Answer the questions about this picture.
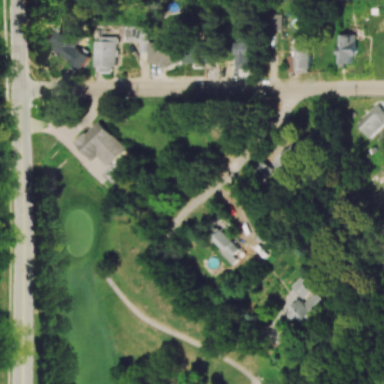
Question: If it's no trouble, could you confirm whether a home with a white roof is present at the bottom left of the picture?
No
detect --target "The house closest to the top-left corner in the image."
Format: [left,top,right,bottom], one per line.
[46,28,90,70]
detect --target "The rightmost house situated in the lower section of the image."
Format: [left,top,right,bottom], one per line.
[285,276,324,320]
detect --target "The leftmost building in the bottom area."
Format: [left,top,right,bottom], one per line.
[208,225,242,262]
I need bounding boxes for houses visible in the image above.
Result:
[147,41,172,65]
[93,36,118,74]
[285,276,324,320]
[356,104,384,138]
[71,122,124,168]
[255,160,278,183]
[334,34,357,69]
[288,49,310,73]
[208,225,242,262]
[232,42,246,68]
[46,28,90,70]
